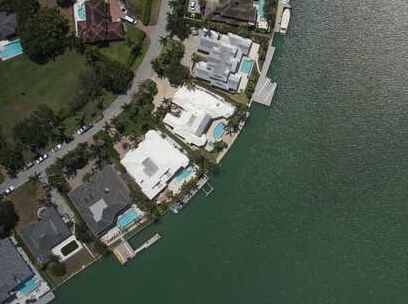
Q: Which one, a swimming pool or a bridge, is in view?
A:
swimming pool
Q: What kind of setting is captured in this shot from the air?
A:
residential area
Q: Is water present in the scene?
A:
Yes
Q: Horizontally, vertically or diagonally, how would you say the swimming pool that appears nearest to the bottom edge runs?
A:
diagonally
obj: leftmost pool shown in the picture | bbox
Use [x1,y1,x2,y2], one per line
[0,39,23,62]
